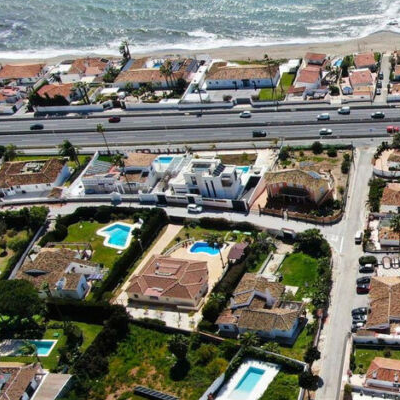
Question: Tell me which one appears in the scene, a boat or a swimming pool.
swimming pool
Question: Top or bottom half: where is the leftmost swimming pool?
bottom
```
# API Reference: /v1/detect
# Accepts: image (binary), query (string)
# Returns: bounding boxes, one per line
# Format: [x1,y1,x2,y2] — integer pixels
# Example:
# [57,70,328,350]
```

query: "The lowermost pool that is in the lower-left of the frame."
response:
[26,338,61,358]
